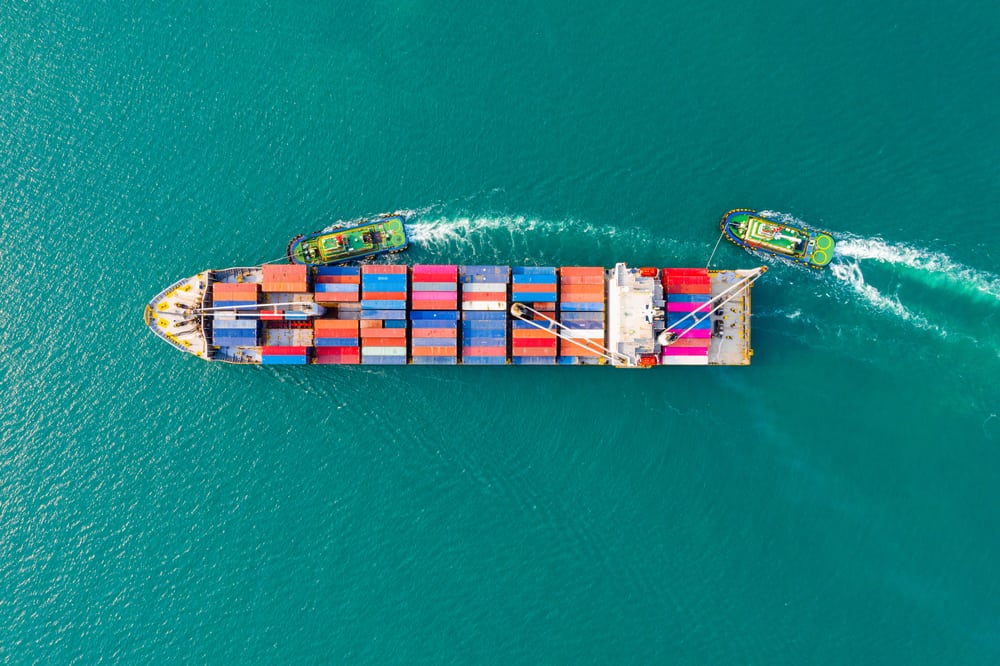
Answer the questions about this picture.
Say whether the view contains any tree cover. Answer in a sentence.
No, no tree cover is visible.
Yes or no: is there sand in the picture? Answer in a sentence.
No, the scene doesn't show any sand.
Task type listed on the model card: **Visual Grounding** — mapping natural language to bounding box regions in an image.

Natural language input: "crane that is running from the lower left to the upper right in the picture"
[654,266,768,346]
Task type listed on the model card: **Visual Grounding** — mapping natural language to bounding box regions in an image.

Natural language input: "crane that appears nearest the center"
[510,304,629,362]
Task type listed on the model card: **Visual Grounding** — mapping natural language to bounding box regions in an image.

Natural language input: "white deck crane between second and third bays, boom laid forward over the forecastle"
[191,303,336,319]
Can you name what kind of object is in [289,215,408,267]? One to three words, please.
boat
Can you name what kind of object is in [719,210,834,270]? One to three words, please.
boat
